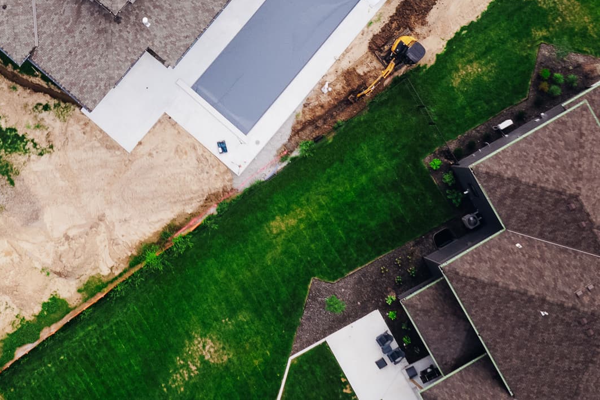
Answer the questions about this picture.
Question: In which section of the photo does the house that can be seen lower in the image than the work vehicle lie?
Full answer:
The house that can be seen lower in the image than the work vehicle appears toward the right of the photo.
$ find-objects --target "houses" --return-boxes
[396,77,600,400]
[0,0,232,113]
